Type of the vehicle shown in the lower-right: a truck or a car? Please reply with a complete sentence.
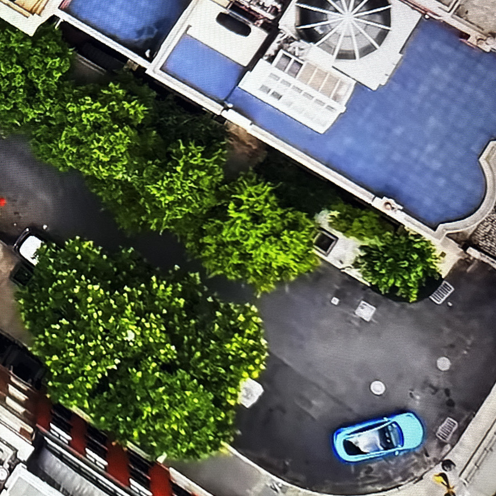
The vehicle shown in the lower-right is a car.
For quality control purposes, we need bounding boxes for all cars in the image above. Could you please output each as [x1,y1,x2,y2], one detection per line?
[5,223,74,289]
[333,414,429,466]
